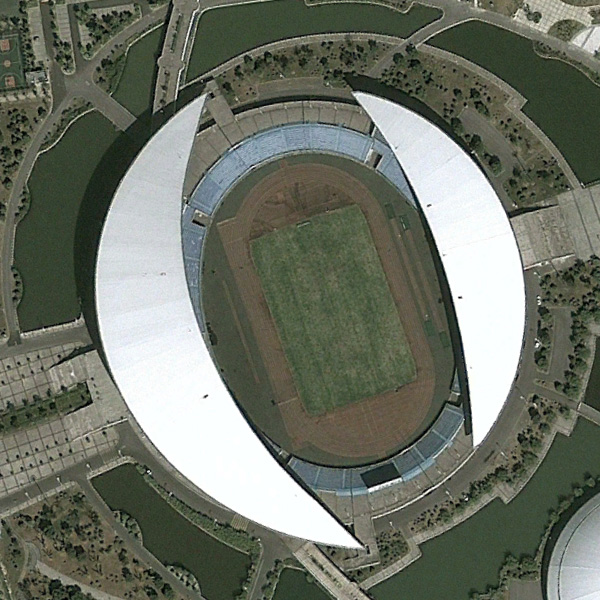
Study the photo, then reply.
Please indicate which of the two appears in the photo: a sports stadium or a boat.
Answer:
sports stadium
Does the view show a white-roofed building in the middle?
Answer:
No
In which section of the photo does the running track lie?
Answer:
center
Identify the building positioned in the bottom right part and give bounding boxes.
[547,493,600,600]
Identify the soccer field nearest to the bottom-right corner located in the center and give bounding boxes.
[249,204,416,415]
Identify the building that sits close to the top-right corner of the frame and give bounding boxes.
[569,22,600,57]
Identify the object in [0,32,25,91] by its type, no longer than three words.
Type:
basketball court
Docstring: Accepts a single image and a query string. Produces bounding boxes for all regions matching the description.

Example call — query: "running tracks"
[203,152,456,467]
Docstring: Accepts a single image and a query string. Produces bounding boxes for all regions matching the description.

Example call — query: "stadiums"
[49,80,574,572]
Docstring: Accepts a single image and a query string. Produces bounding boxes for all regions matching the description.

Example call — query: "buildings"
[547,493,600,600]
[26,71,50,84]
[569,22,600,57]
